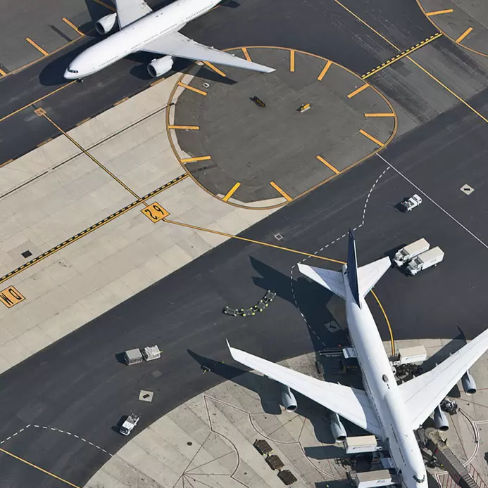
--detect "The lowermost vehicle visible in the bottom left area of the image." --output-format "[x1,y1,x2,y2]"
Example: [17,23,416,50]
[119,408,140,432]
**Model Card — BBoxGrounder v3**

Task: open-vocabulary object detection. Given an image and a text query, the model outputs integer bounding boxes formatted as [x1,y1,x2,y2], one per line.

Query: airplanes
[230,226,488,488]
[65,0,277,80]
